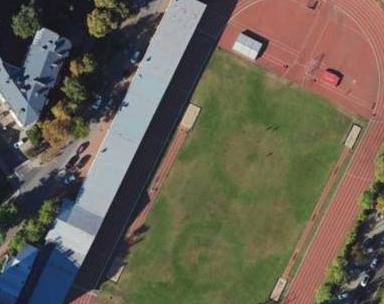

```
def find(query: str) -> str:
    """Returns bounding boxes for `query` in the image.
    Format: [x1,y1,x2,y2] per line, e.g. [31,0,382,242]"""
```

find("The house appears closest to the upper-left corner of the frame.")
[0,29,74,129]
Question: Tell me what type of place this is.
sports ground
